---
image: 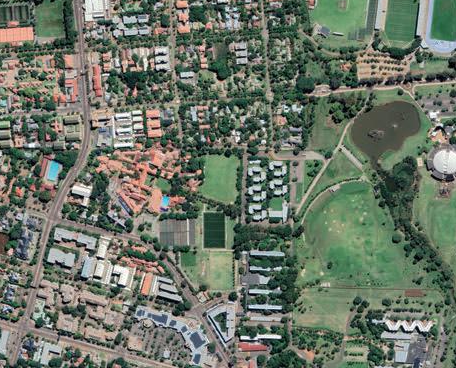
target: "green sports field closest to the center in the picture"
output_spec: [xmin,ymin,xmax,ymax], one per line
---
[202,154,239,203]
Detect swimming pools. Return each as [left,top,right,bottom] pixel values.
[162,196,170,206]
[45,158,62,183]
